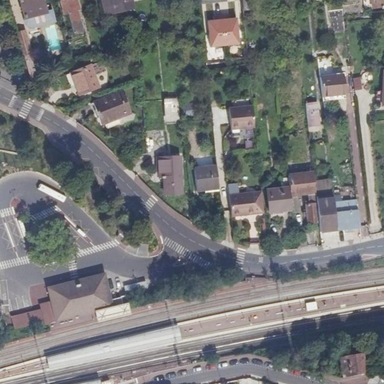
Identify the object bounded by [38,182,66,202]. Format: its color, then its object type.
white bus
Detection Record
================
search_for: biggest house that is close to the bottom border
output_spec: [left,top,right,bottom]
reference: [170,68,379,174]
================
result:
[340,354,368,377]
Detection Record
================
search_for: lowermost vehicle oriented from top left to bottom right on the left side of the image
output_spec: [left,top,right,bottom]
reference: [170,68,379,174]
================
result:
[74,225,99,248]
